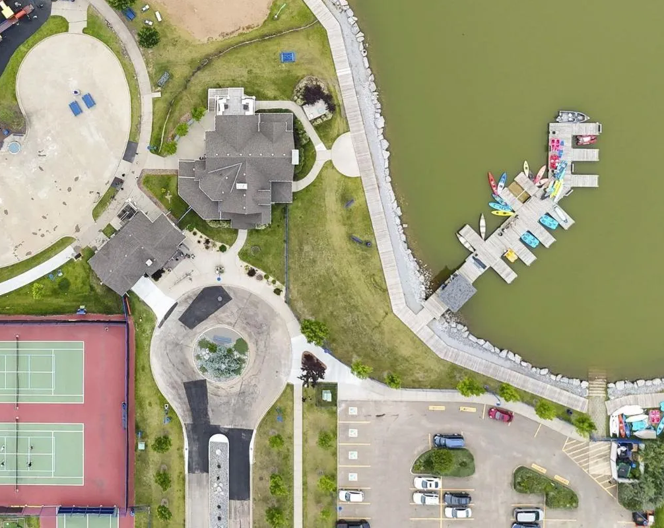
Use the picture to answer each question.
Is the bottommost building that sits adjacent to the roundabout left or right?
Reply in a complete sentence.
It is on the left.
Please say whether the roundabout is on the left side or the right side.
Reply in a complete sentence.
The roundabout appears in the left half of the scene.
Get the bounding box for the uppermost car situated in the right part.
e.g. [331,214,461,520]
[486,406,514,423]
